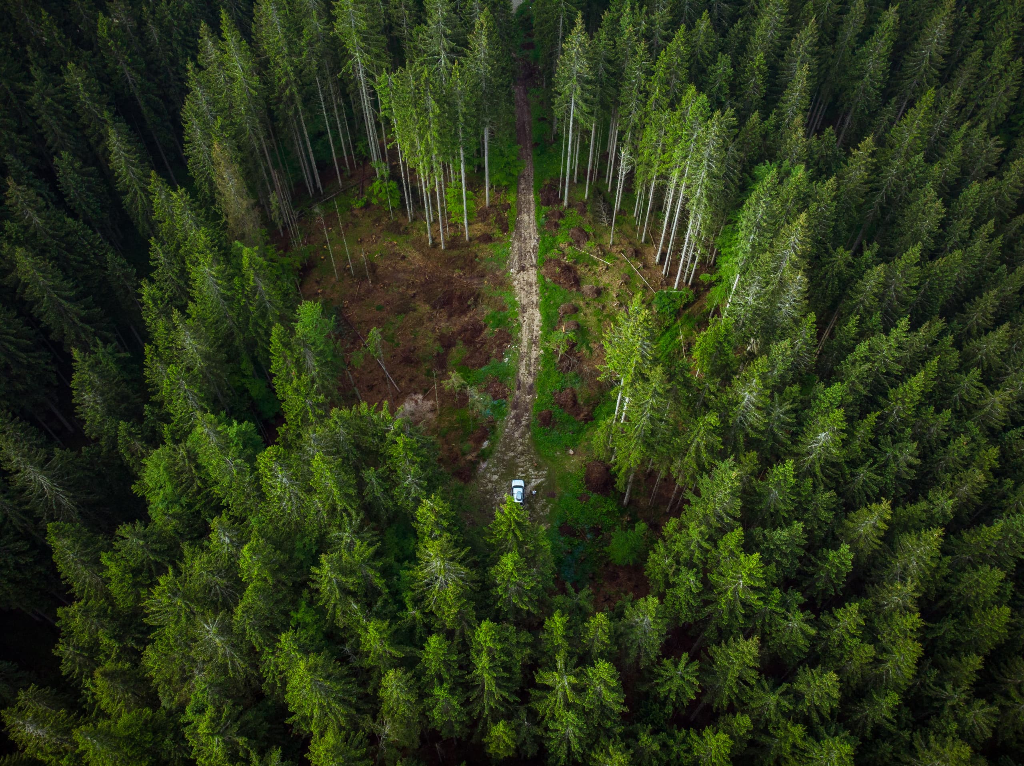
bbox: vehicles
[511,479,526,506]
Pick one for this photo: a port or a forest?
forest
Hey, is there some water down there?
No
